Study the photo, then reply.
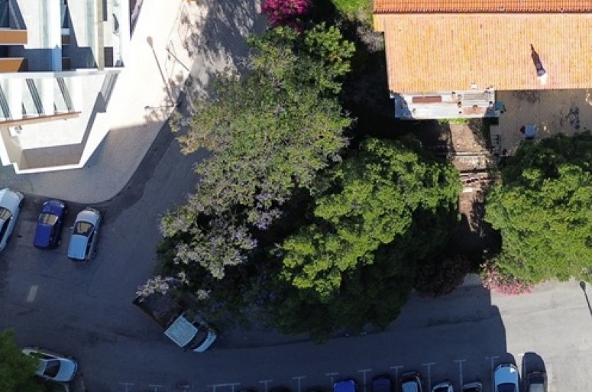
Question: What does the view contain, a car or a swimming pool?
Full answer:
Of the two, only a car appears.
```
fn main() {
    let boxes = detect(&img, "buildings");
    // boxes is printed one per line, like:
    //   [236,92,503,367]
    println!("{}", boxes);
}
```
[372,0,592,92]
[0,0,143,173]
